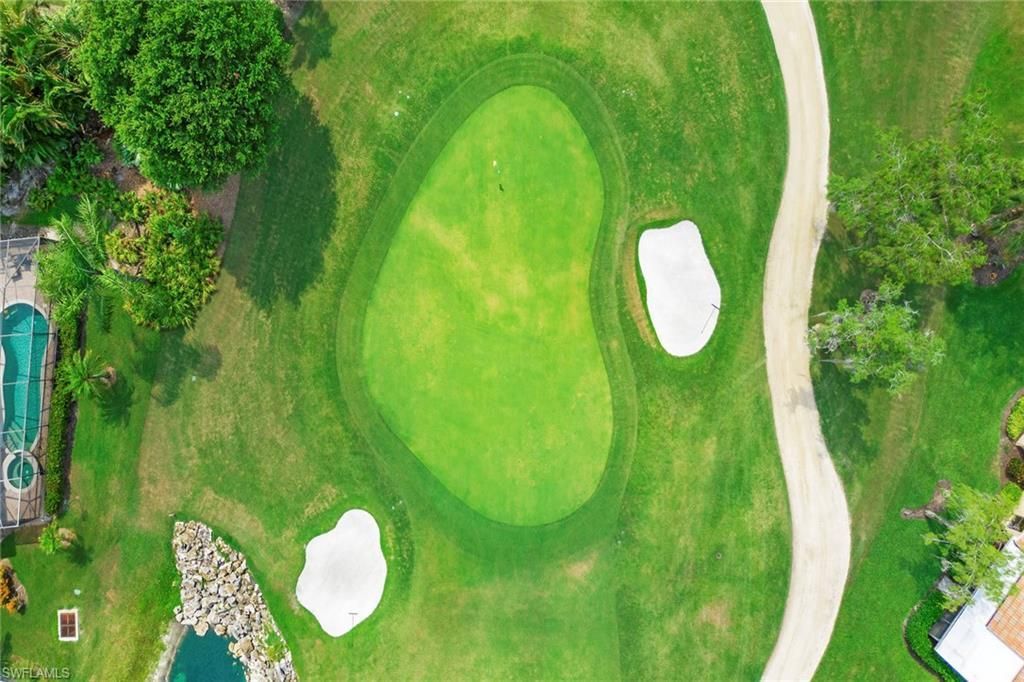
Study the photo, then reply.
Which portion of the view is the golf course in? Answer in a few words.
center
